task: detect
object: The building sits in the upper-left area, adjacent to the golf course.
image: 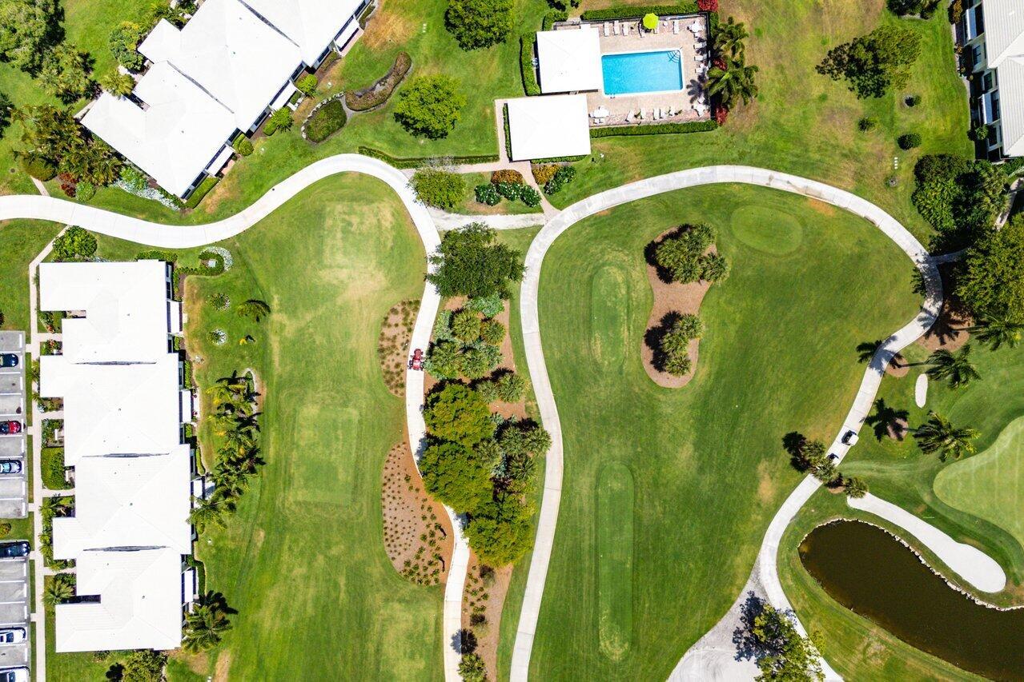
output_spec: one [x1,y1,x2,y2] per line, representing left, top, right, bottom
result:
[82,0,373,198]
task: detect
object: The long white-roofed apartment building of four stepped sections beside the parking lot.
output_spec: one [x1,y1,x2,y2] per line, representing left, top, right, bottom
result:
[40,258,210,653]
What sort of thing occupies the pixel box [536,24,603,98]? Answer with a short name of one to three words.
building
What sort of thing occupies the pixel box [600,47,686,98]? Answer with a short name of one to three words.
swimming pool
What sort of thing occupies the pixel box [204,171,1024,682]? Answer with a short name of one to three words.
golf course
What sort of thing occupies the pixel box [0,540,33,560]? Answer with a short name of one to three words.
car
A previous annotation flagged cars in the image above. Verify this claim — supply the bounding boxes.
[0,352,21,370]
[0,626,28,646]
[0,666,32,682]
[0,418,23,436]
[0,458,24,476]
[0,540,33,560]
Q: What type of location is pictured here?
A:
golf course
